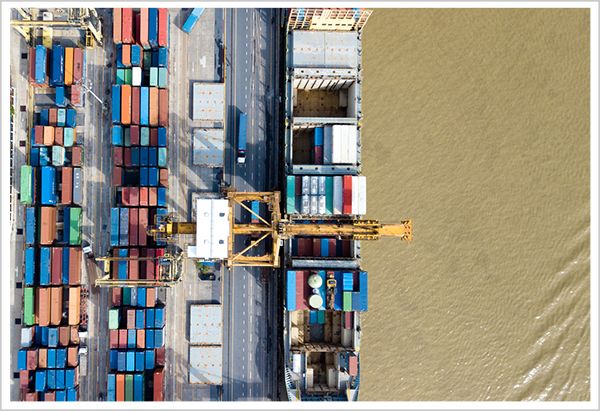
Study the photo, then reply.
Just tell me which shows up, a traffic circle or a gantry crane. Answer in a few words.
gantry crane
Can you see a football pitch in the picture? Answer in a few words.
No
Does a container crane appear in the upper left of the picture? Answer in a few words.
Yes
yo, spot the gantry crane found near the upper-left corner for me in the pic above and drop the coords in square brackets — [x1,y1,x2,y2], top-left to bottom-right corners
[9,0,110,49]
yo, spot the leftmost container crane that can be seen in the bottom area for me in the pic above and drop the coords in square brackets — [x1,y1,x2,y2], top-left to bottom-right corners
[97,246,188,287]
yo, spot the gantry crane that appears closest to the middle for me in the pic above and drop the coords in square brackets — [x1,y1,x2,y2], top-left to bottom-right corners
[145,189,411,268]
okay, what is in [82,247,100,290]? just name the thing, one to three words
vehicle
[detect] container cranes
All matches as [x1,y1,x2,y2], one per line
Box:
[145,189,411,268]
[97,246,188,287]
[9,0,110,49]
